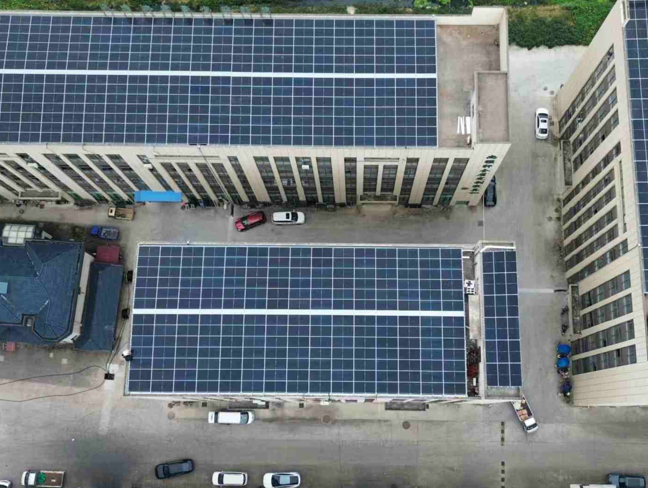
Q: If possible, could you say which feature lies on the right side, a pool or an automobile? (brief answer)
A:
automobile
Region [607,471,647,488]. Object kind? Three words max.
car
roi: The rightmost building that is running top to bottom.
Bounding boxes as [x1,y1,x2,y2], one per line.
[556,0,648,408]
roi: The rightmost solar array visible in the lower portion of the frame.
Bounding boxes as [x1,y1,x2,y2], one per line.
[483,250,521,387]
